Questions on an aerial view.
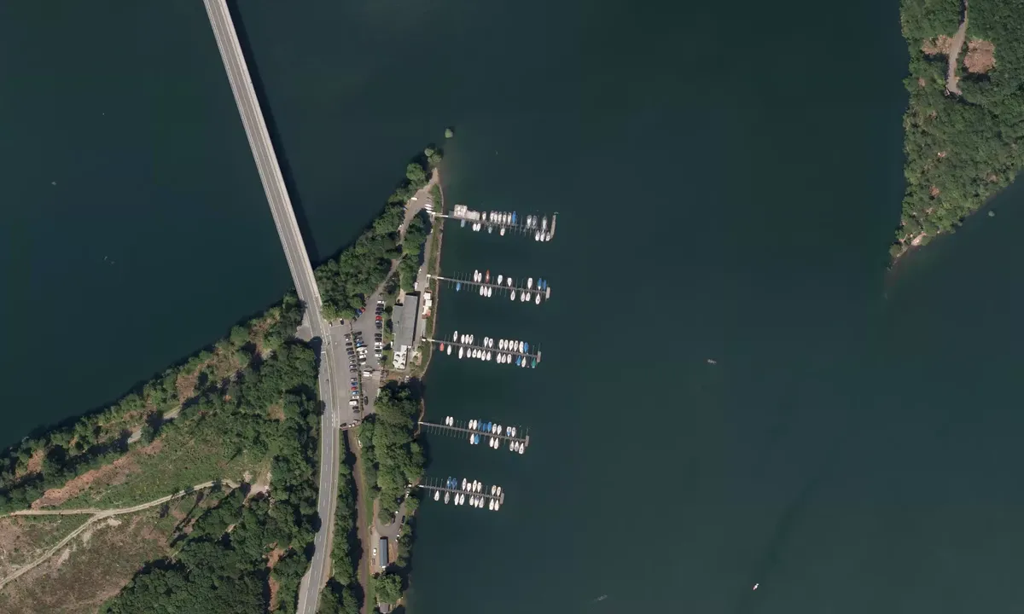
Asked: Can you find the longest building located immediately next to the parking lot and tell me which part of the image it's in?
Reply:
center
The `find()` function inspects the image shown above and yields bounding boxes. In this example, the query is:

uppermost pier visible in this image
[434,214,556,238]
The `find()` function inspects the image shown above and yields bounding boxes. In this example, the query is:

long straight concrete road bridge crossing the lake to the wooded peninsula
[203,0,320,306]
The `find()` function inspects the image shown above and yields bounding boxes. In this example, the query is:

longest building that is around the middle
[392,295,417,369]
